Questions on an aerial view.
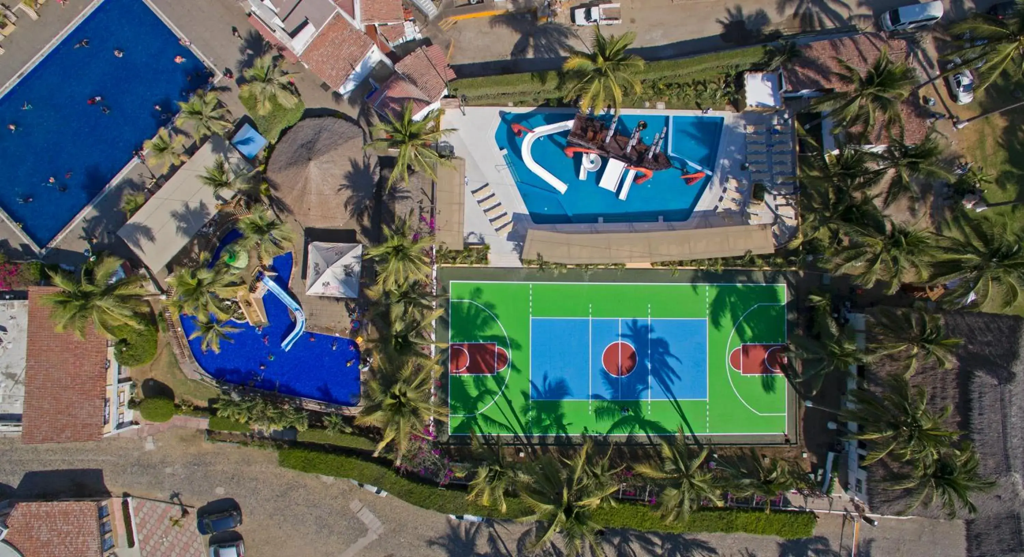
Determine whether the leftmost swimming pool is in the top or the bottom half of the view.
top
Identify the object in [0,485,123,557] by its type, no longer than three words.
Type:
house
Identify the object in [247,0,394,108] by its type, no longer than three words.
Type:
house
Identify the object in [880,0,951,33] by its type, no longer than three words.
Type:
van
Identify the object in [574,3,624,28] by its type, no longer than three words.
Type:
truck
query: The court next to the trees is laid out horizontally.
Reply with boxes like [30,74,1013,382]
[435,267,797,445]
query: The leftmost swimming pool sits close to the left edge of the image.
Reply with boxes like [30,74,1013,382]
[0,0,222,258]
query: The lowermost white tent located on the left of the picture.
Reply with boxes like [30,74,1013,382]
[306,243,363,297]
